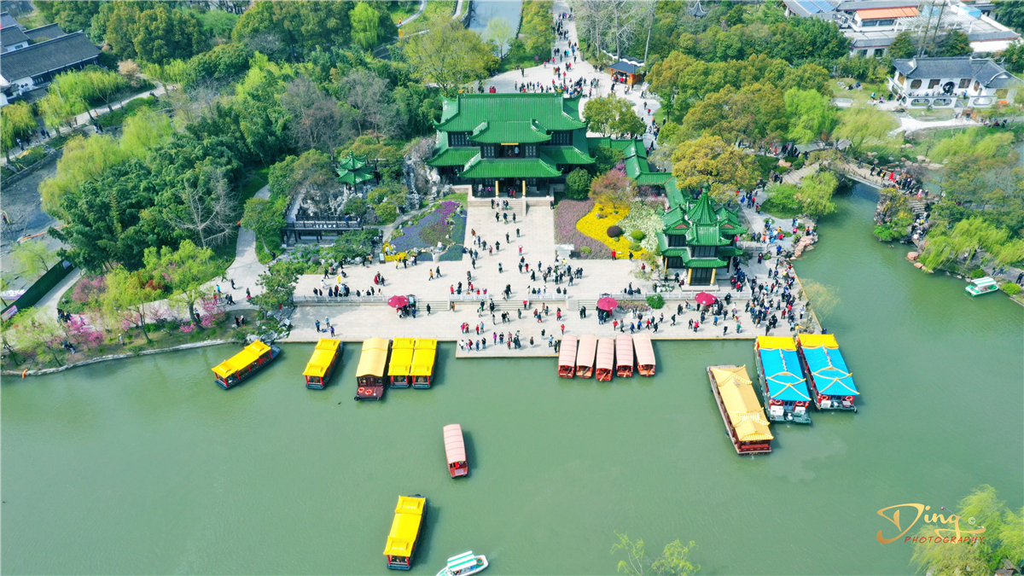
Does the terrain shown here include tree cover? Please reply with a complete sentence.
Yes, tree cover can be seen from above here.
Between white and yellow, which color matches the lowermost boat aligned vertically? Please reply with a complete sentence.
The color of the lowermost boat aligned vertically is yellow.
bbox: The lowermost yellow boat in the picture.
[381,493,427,575]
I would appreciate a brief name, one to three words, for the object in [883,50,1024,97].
house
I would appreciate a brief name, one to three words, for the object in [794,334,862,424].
vessel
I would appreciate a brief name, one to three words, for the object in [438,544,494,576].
boat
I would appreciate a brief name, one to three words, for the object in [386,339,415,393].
boat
